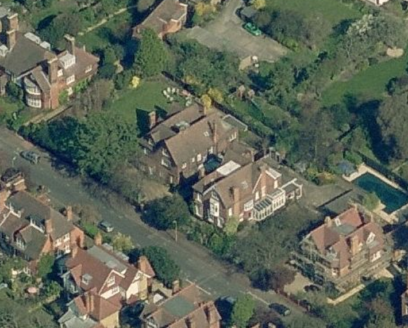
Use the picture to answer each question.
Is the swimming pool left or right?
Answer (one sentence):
You can find the swimming pool on the right side of the picture.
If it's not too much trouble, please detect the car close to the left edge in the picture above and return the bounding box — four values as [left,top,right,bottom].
[20,149,40,162]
